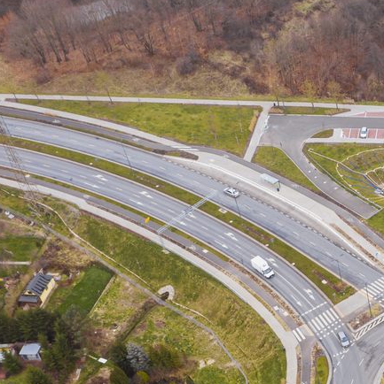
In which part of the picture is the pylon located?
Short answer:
left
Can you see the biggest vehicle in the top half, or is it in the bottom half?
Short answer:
bottom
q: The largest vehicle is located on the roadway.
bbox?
[250,256,272,278]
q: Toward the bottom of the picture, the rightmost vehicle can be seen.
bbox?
[335,331,350,347]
